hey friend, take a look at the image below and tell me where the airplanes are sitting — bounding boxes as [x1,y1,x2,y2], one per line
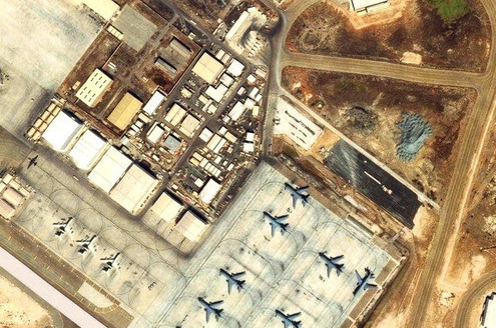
[264,213,289,238]
[26,154,38,168]
[51,220,74,246]
[74,237,97,264]
[319,254,344,279]
[198,300,224,324]
[353,268,377,295]
[221,270,246,295]
[275,311,301,328]
[285,184,310,208]
[98,254,121,281]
